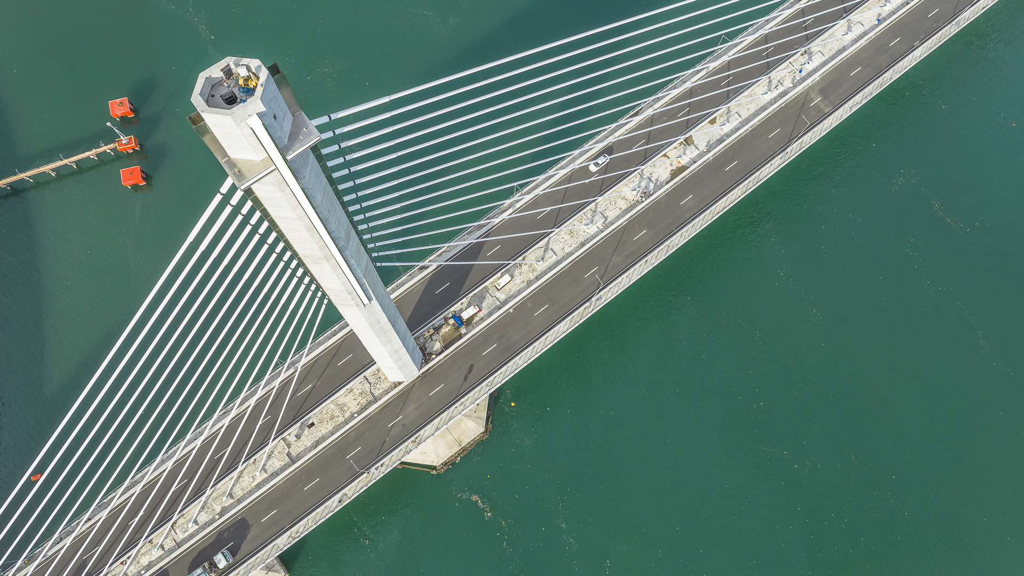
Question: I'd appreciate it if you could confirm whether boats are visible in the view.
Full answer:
No, there appears to be no boat in this shot.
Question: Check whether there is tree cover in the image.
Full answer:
No, tree cover can't be seen anywhere here.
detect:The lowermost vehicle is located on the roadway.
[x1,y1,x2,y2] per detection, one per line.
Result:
[192,549,239,576]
